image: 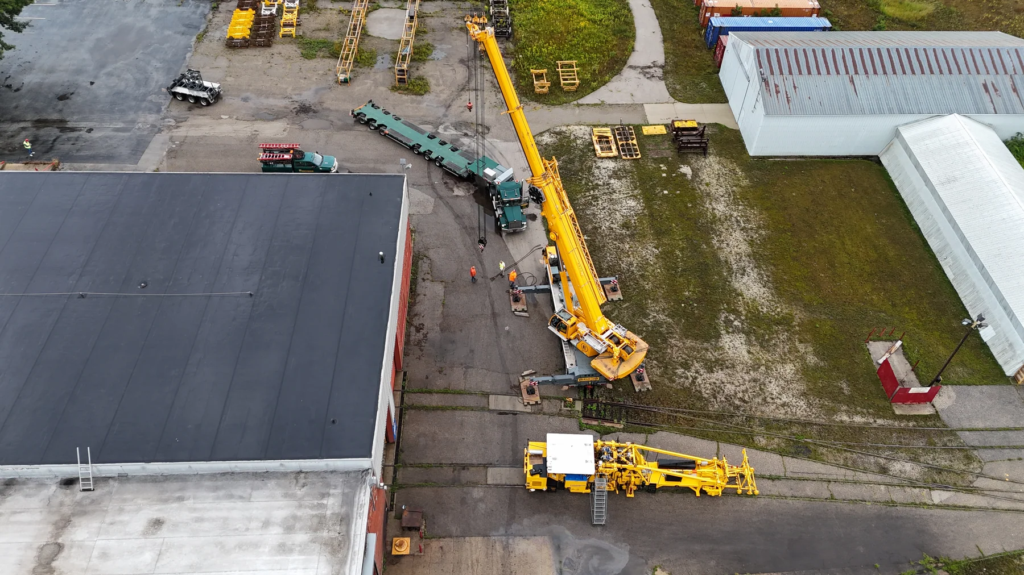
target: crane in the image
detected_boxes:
[463,19,647,394]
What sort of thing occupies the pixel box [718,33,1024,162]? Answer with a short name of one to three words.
shed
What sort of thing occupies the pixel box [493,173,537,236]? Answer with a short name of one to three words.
truck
